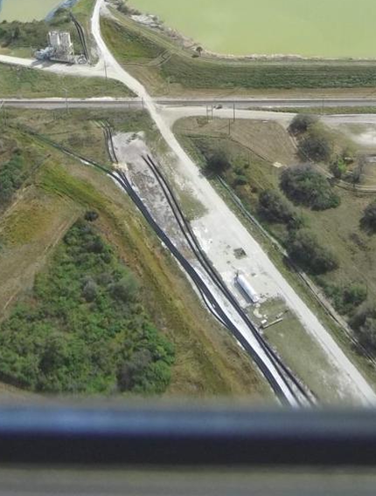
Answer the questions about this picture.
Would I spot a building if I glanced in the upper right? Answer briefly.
No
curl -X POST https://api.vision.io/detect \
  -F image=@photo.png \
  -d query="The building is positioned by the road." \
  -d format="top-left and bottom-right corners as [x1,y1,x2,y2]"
[40,34,74,67]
